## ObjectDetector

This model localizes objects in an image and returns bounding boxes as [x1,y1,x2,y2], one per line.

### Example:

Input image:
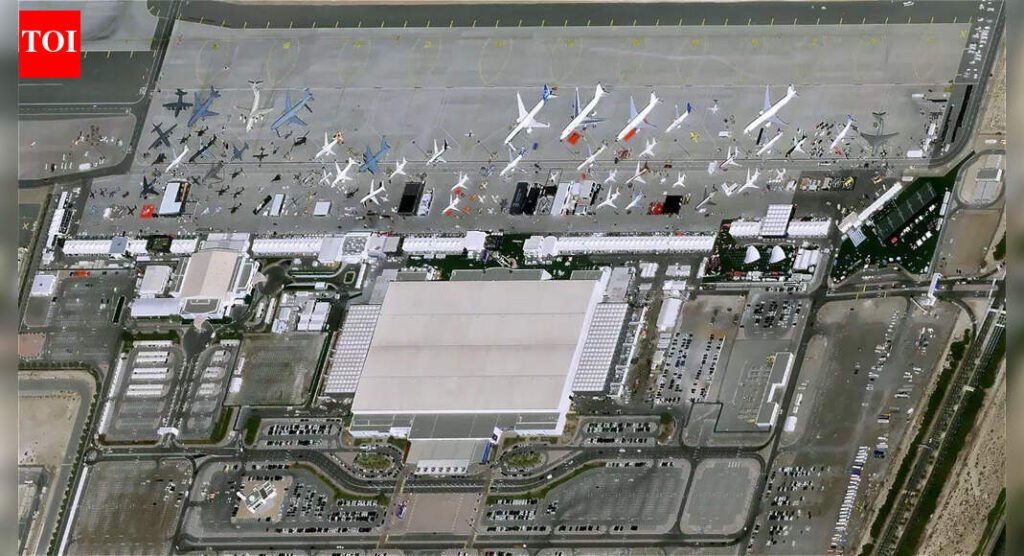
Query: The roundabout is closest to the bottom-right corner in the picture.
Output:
[499,445,551,478]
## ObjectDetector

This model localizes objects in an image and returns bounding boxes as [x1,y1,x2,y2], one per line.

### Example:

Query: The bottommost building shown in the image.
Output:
[236,481,280,516]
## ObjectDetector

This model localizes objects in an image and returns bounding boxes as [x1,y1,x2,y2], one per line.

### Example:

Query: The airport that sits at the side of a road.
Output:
[0,0,1021,243]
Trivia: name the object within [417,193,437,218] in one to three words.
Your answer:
building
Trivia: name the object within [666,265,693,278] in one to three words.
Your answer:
tent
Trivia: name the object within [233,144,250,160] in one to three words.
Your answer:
airplane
